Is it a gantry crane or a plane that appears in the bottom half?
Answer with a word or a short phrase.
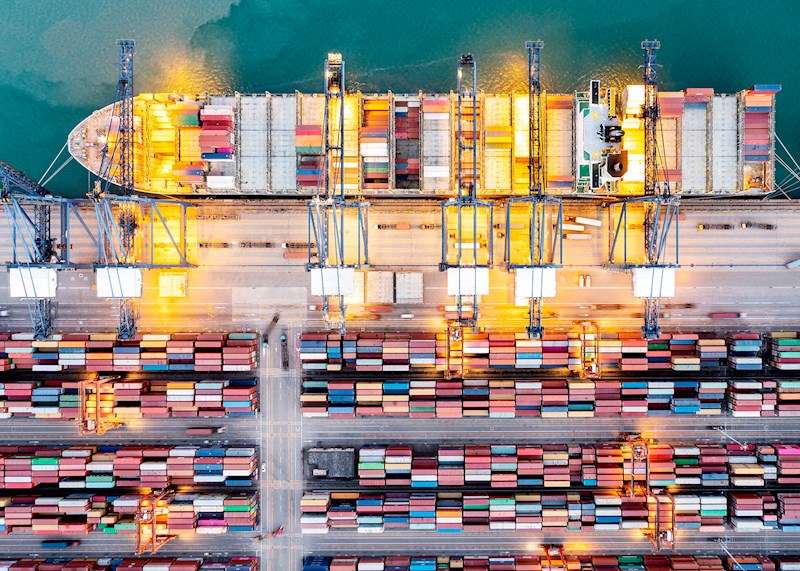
gantry crane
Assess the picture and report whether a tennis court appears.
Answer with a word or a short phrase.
No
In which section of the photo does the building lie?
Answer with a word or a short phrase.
bottom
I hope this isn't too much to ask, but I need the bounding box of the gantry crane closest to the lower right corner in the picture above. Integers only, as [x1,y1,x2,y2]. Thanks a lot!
[641,484,677,553]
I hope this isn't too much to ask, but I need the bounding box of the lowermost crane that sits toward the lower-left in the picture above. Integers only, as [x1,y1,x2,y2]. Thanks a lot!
[135,484,179,553]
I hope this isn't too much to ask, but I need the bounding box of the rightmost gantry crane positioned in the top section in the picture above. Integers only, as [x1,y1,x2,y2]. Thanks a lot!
[595,40,683,336]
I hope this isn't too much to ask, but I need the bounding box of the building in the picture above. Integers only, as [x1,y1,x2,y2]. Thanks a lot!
[305,449,352,480]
